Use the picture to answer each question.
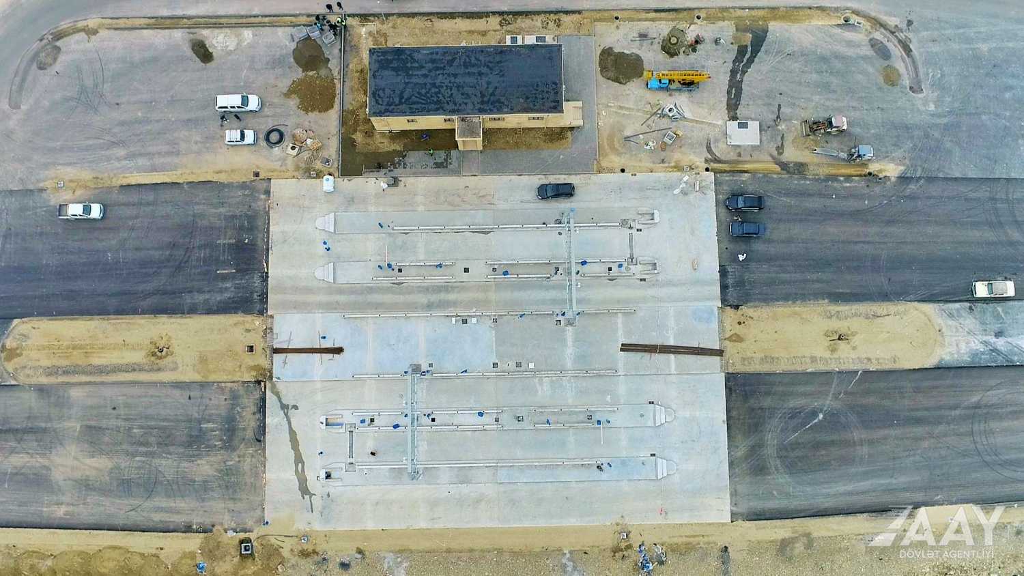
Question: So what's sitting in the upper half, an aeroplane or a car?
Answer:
car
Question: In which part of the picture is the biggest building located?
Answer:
top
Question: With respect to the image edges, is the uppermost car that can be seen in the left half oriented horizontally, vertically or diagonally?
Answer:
horizontally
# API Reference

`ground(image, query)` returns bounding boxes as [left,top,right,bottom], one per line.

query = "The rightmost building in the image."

[365,43,585,150]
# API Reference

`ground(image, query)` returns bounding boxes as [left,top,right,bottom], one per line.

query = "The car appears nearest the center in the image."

[536,183,573,202]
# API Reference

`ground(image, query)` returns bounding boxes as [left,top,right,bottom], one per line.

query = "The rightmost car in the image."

[974,280,1017,298]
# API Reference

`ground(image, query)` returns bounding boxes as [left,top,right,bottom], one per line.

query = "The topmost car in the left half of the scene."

[215,93,260,114]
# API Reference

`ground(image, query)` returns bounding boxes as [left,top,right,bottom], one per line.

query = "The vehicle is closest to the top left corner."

[56,202,102,221]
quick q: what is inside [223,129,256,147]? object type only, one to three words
car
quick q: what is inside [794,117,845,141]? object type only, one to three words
work vehicle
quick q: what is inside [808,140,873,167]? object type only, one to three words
work vehicle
